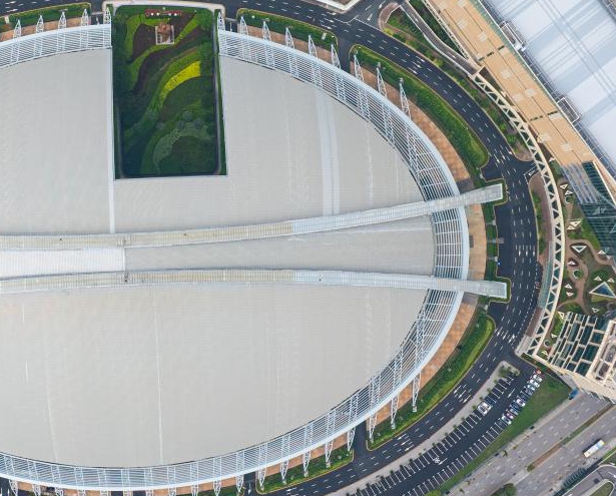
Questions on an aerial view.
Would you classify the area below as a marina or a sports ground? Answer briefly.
sports ground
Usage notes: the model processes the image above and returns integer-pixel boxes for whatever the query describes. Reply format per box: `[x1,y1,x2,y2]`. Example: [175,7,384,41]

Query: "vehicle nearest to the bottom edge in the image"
[584,438,609,457]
